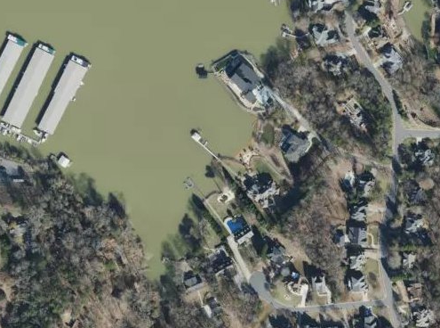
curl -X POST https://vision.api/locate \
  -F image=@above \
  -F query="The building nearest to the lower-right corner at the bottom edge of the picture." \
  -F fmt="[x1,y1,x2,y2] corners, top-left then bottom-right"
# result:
[412,307,437,328]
